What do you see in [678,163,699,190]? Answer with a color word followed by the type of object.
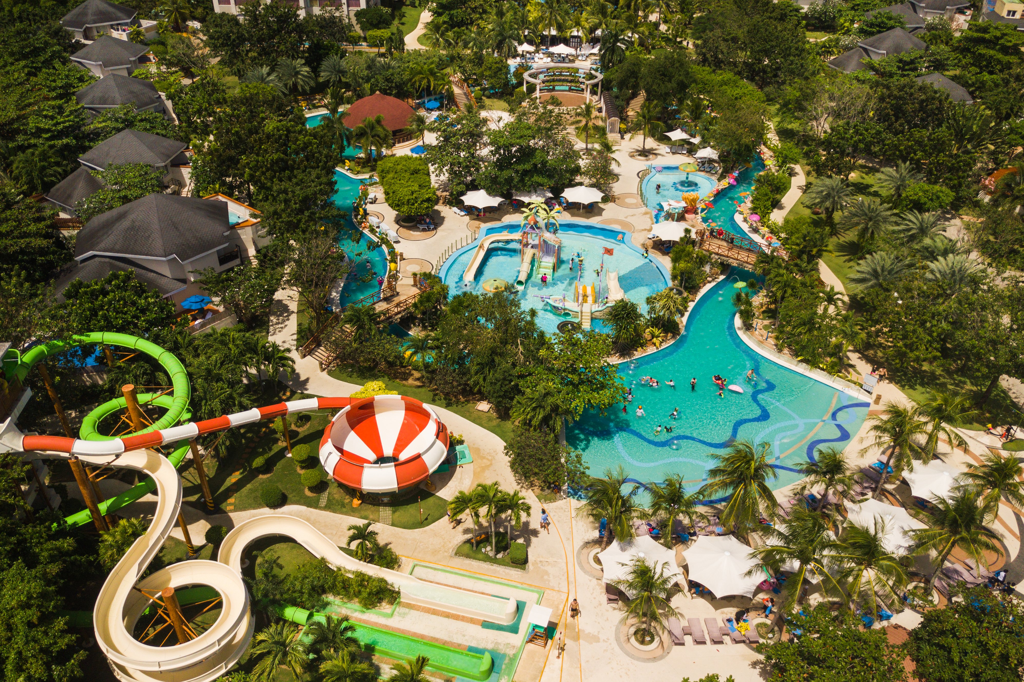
yellow fountain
